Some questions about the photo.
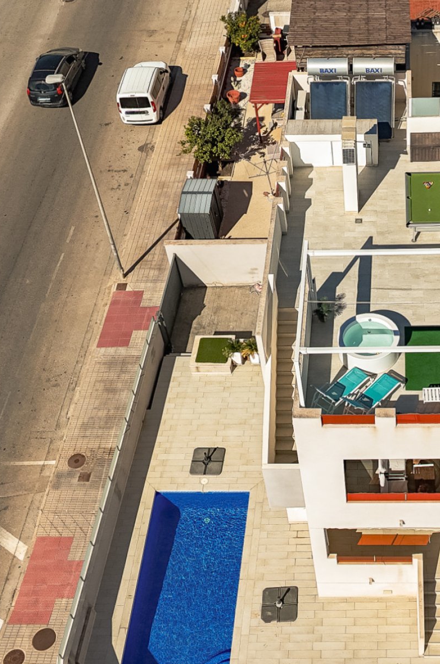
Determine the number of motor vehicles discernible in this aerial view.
2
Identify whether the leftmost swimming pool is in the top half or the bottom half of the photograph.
bottom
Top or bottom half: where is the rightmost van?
top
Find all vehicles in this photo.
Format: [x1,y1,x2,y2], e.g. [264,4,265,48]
[25,46,90,106]
[118,57,179,124]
